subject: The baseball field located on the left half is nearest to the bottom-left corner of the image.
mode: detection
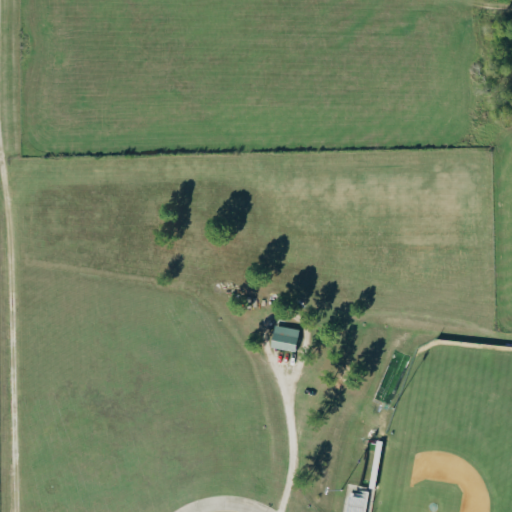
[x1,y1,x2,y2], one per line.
[20,262,277,512]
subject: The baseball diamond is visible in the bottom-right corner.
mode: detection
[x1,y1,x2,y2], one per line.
[373,338,512,512]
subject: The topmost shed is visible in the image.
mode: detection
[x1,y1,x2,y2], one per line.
[272,326,300,352]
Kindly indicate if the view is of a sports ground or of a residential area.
sports ground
